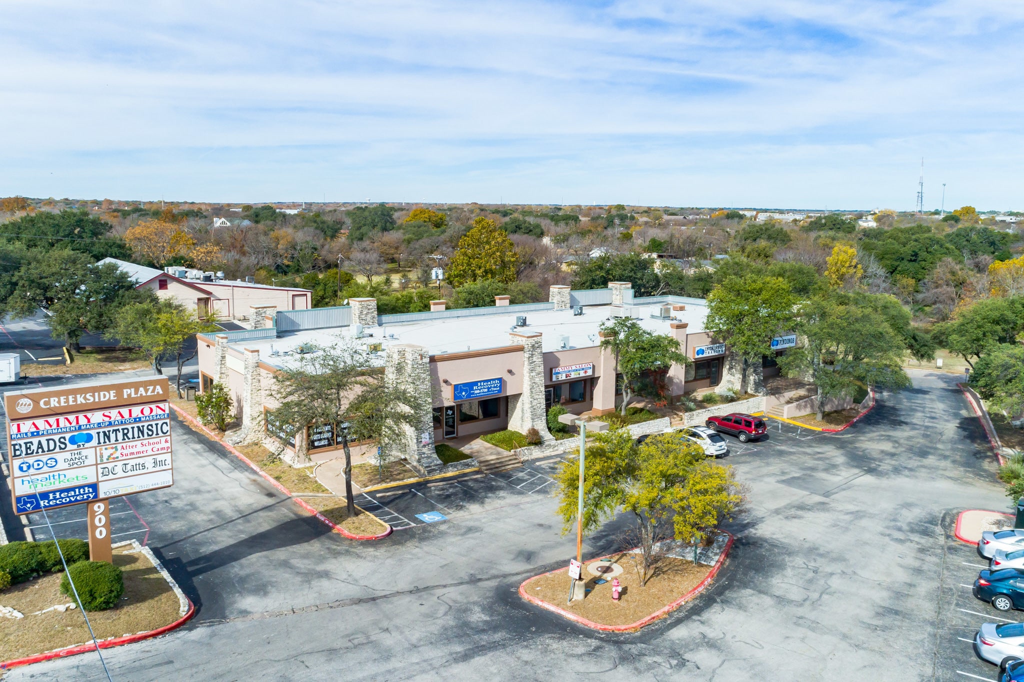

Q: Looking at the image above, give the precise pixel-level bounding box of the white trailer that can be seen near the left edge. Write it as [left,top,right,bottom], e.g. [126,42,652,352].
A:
[0,346,45,380]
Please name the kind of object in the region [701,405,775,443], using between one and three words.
car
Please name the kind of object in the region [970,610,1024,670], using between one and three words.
car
